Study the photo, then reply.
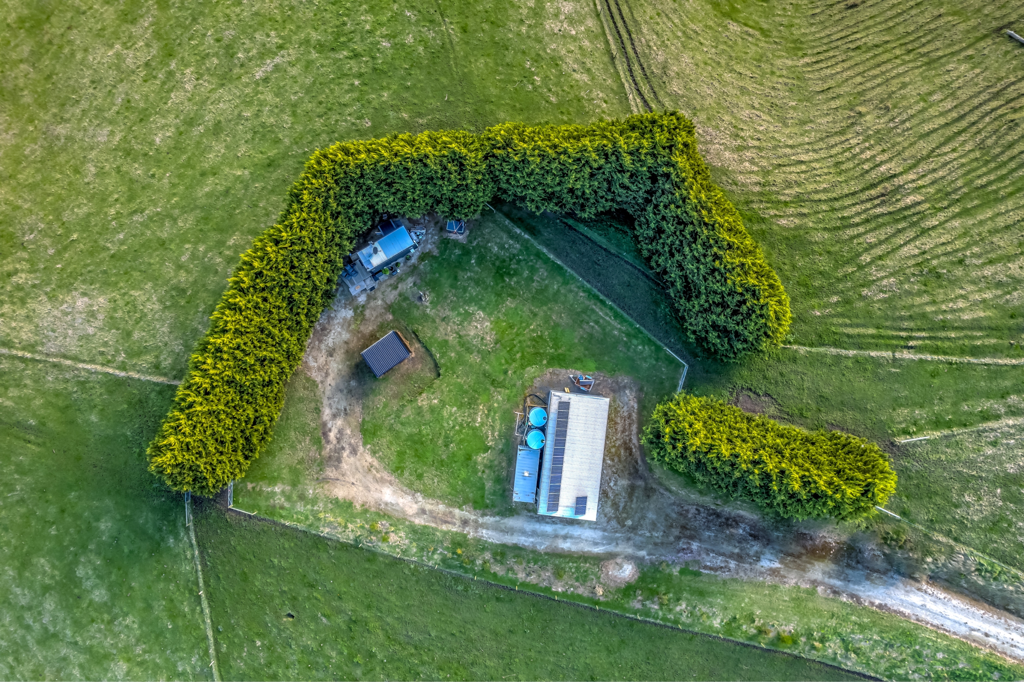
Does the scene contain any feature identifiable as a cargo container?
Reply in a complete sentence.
Yes, a cargo container can be made out from above.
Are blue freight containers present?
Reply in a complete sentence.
Yes, there is a blue freight container in the image.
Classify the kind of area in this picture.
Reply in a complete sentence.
The area seen from above is farmland.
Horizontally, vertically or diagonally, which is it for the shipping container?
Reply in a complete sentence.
I'd say the shipping container is aligned vertically in the picture.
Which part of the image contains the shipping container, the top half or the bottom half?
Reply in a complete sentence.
The shipping container is in the bottom half of the image.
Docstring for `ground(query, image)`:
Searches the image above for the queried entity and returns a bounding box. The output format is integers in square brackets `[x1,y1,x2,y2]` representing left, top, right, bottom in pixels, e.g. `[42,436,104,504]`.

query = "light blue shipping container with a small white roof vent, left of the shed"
[512,444,541,504]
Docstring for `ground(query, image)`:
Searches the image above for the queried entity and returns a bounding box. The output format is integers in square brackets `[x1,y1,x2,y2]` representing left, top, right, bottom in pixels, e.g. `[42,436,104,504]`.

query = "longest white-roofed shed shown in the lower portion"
[536,391,610,521]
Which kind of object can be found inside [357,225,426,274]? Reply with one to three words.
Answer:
house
